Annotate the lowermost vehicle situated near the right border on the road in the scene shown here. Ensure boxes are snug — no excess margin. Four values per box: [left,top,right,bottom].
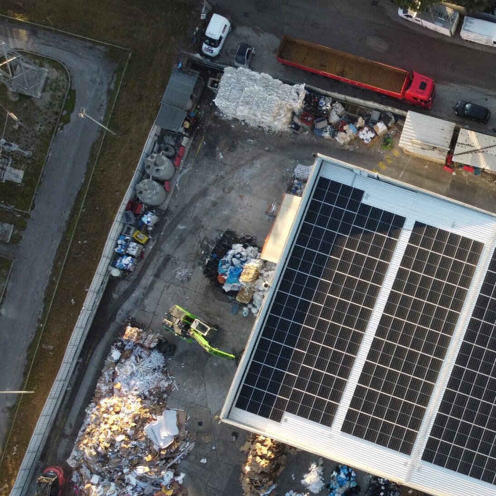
[453,101,493,125]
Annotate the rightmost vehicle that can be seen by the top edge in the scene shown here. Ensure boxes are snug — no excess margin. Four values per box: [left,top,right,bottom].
[460,15,496,50]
